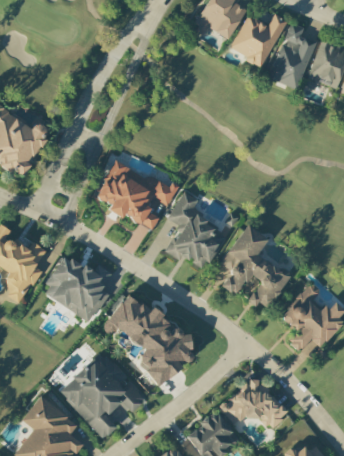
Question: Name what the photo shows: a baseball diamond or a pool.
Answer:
pool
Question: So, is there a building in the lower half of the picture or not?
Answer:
Yes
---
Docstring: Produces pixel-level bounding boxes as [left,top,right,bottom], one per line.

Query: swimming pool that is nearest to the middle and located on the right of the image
[206,200,227,221]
